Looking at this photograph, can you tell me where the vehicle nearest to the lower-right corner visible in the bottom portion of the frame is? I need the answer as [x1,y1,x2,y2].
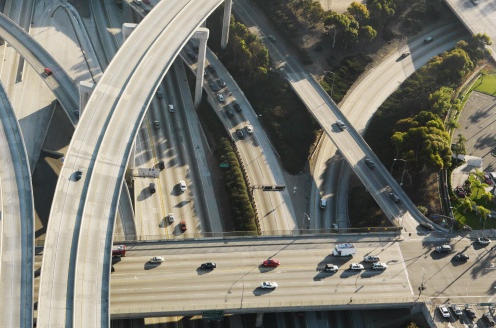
[481,314,496,327]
